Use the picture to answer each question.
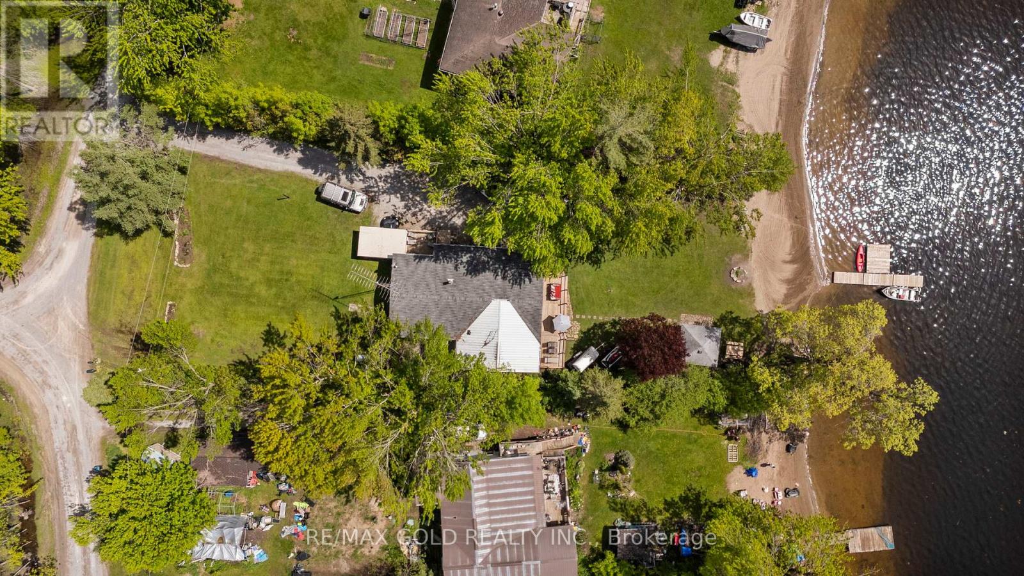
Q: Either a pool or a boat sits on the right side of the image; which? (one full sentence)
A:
There is a boat on the right side of the image.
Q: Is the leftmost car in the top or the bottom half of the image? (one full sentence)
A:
The top half of the photo is where the leftmost car is.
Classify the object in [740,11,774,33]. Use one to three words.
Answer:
boat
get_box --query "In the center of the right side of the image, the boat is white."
[880,286,928,303]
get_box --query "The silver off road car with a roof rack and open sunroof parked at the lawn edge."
[319,182,371,214]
